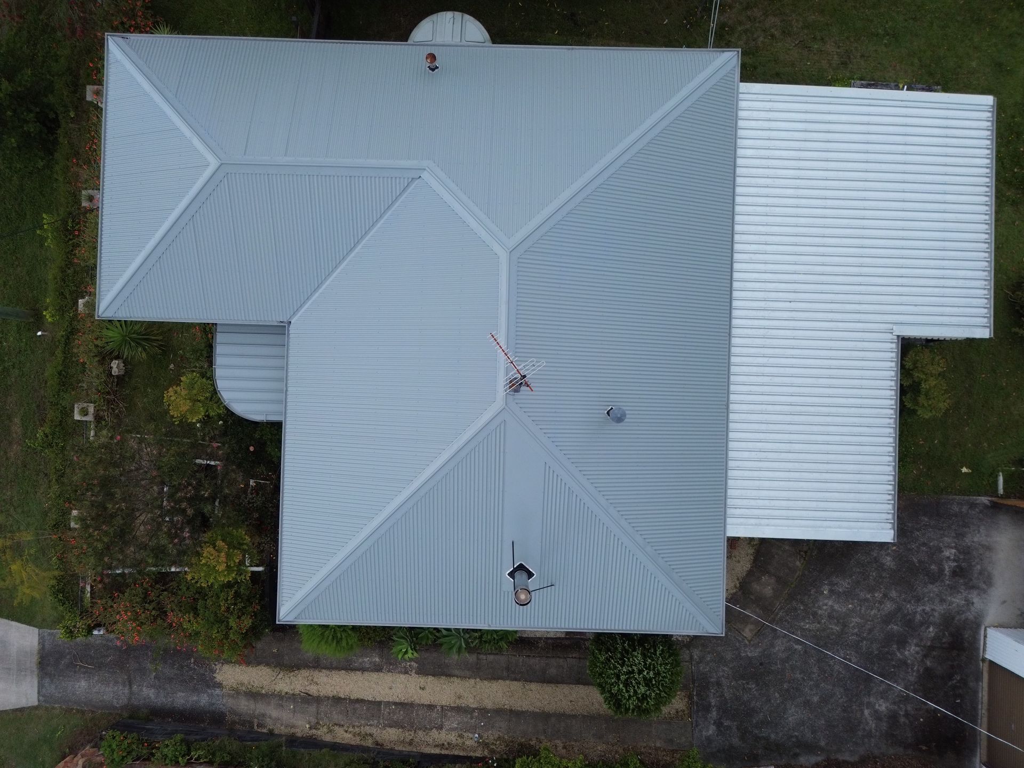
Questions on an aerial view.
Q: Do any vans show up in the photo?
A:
No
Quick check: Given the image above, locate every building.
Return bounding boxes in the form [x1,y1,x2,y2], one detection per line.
[96,35,740,635]
[985,628,1024,768]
